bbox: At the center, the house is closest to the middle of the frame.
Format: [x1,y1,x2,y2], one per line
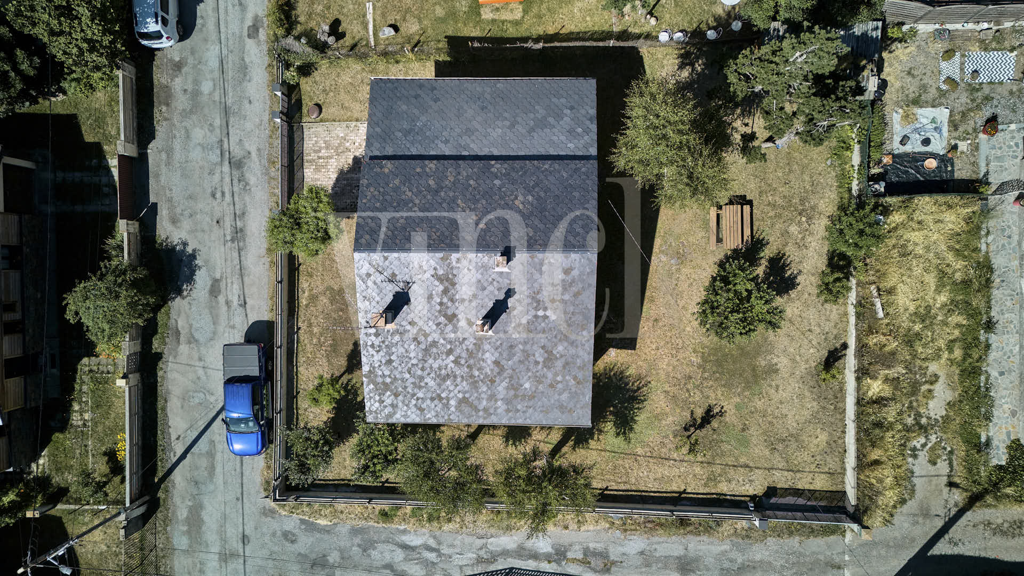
[332,76,599,430]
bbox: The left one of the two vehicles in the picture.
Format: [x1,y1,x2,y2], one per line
[127,0,181,53]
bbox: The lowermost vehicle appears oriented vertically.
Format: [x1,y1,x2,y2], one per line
[219,341,273,456]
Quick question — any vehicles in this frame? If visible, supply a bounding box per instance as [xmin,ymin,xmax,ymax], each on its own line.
[219,341,273,456]
[127,0,181,53]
